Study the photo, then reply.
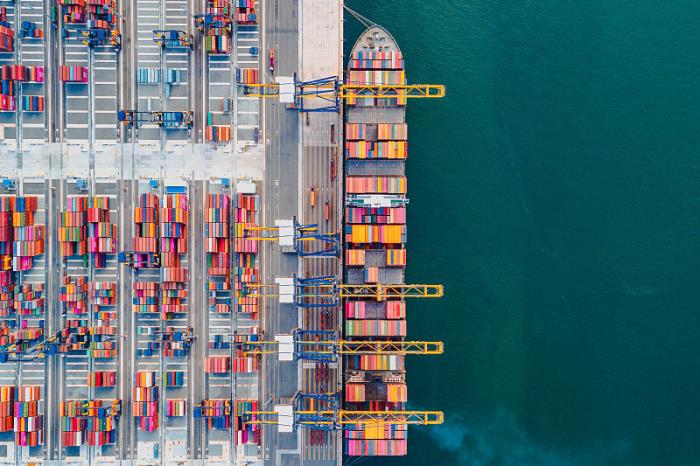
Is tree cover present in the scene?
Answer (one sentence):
No, there is no tree cover in the image.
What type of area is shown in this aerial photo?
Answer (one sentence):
This looks like a port.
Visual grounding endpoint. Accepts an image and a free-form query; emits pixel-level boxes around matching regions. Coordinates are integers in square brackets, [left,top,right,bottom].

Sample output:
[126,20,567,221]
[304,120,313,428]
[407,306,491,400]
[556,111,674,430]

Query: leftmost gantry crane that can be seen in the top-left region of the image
[77,27,123,50]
